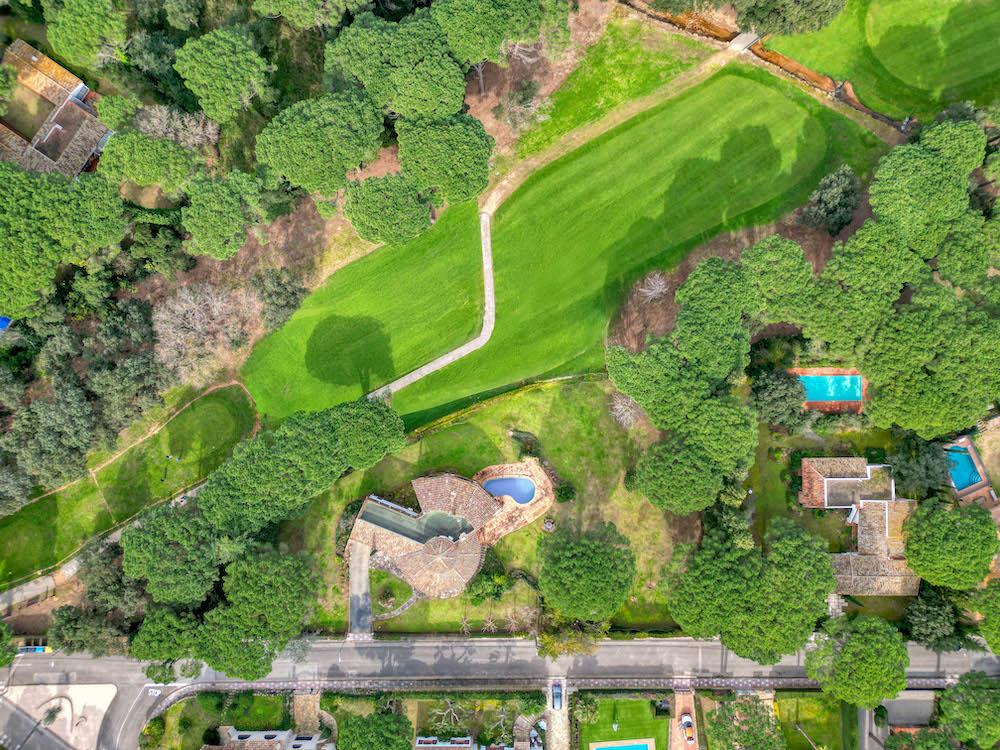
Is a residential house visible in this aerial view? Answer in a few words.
Yes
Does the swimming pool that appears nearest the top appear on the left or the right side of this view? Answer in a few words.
right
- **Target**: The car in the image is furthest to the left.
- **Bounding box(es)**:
[551,686,564,713]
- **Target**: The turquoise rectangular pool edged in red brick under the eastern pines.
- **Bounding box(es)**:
[787,367,870,413]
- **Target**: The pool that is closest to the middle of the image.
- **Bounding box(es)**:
[479,474,538,506]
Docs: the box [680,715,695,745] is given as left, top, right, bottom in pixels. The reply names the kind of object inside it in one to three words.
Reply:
car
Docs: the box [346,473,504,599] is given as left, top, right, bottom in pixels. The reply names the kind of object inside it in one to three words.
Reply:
house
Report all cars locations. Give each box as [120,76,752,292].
[680,715,695,745]
[551,686,564,713]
